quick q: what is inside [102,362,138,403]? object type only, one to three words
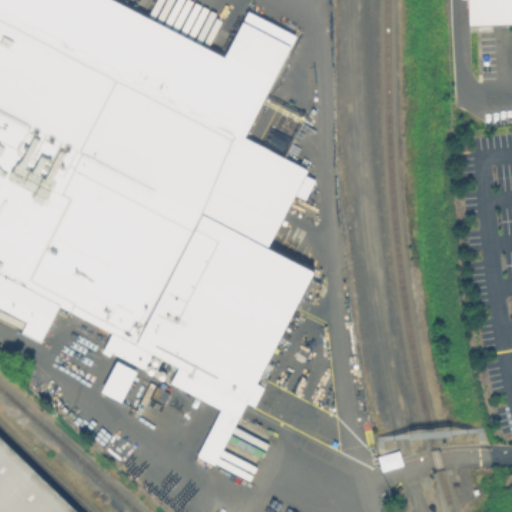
shed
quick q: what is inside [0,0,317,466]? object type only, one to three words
building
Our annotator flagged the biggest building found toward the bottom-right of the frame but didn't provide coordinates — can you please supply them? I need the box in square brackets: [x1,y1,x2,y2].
[380,451,404,473]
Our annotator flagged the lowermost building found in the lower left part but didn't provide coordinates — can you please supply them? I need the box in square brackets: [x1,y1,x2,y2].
[0,437,78,512]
